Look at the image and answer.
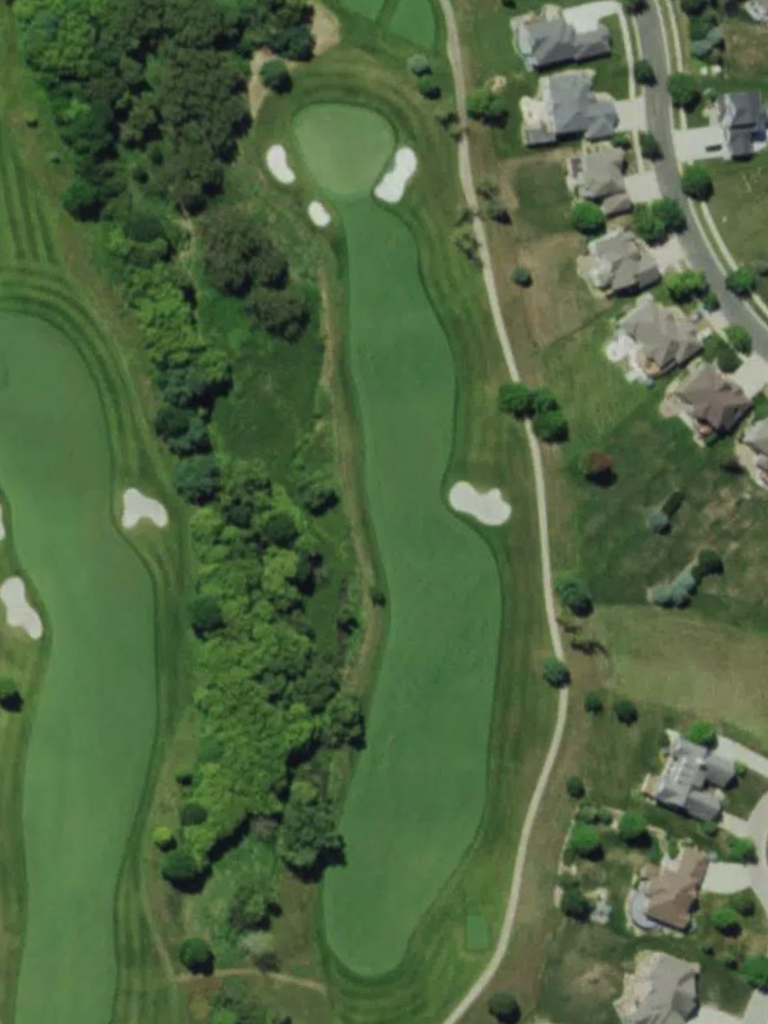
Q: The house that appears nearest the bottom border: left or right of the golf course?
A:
to the right of it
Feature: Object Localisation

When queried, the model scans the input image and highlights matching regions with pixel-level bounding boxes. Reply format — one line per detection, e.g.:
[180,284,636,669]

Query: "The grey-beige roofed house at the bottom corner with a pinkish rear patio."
[613,950,702,1024]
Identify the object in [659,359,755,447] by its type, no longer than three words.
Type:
house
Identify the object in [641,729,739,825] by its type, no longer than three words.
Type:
house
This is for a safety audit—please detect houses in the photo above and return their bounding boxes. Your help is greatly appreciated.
[641,729,739,825]
[613,950,702,1024]
[703,92,768,155]
[603,286,703,384]
[520,69,621,146]
[743,0,768,22]
[625,841,709,937]
[566,141,635,214]
[511,5,614,71]
[577,224,660,298]
[659,359,755,447]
